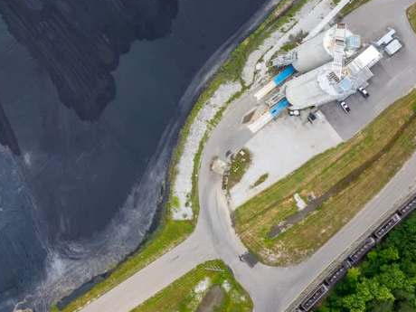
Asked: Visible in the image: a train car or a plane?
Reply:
train car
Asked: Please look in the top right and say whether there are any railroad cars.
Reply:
No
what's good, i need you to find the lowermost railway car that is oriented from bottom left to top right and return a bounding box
[300,284,331,312]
